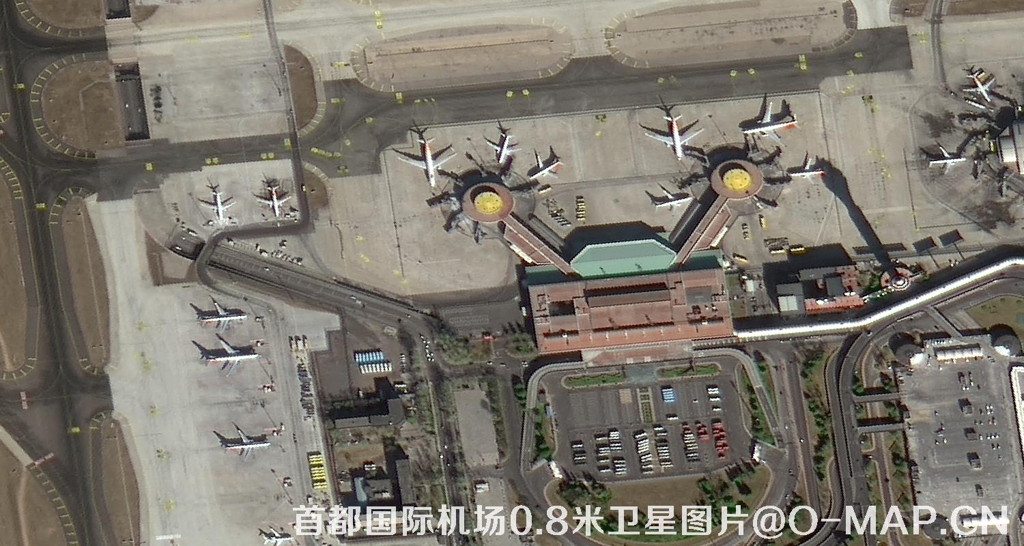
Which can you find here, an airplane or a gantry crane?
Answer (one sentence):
Visible in the photo is an airplane.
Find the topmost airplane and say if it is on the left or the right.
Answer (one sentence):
You can find the topmost airplane on the right side of the picture.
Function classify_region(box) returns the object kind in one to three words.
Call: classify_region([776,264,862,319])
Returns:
building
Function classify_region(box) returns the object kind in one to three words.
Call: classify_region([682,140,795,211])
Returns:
building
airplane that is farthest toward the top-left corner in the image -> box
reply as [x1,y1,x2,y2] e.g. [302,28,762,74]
[200,190,235,221]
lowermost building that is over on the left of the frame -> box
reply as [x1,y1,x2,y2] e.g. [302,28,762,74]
[360,506,438,527]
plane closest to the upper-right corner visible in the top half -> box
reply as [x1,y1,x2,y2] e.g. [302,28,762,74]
[963,71,998,102]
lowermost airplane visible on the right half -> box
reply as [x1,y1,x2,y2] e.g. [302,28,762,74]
[655,190,692,215]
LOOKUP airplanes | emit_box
[264,529,294,546]
[742,105,799,145]
[530,157,566,180]
[207,341,259,377]
[222,429,270,463]
[256,185,293,218]
[647,113,702,160]
[200,190,235,221]
[485,131,522,164]
[199,302,248,335]
[963,71,998,102]
[655,190,692,215]
[397,135,458,186]
[789,160,824,185]
[929,148,966,174]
